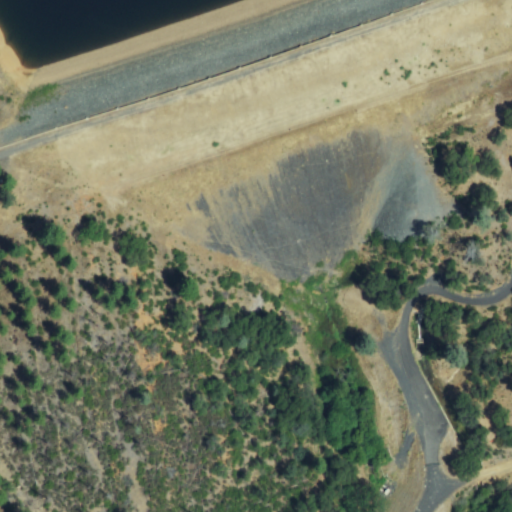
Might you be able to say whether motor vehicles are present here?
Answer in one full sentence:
No, I can see no motor vehicle in this picture.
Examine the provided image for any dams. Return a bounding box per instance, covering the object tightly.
[0,0,512,193]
